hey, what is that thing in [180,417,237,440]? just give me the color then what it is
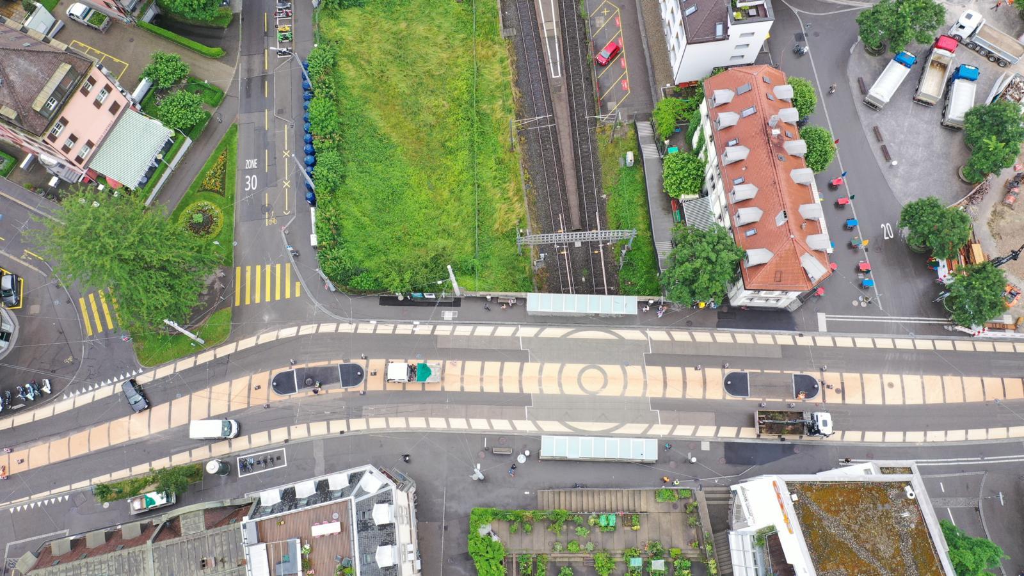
white vehicle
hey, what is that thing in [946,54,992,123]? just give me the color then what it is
white truck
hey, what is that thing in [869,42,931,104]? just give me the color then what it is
white truck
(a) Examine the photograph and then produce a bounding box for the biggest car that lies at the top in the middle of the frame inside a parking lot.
[596,38,623,64]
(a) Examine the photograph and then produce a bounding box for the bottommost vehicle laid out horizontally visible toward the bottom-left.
[121,489,176,520]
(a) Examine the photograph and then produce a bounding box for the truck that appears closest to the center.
[382,357,439,383]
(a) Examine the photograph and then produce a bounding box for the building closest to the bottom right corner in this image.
[724,458,957,576]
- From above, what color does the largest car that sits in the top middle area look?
red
